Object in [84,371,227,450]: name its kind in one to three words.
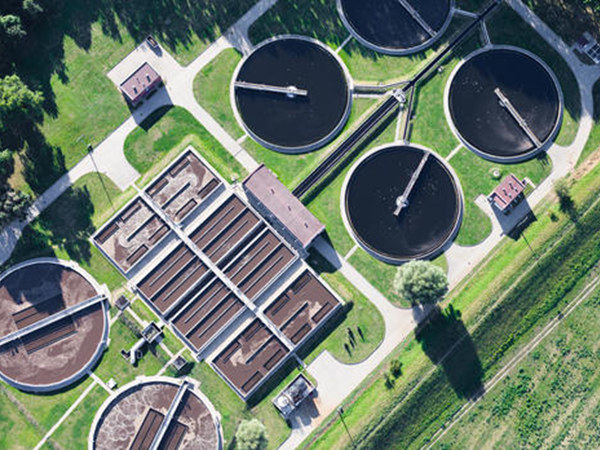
storage tank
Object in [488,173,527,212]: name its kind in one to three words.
building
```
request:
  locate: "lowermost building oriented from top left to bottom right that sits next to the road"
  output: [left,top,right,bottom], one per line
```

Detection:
[243,163,325,248]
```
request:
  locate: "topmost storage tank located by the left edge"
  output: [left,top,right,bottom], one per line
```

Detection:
[0,257,120,398]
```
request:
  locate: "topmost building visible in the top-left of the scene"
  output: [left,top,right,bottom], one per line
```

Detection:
[118,62,161,103]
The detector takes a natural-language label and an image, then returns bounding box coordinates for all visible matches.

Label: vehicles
[145,35,163,54]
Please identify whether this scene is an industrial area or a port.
industrial area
